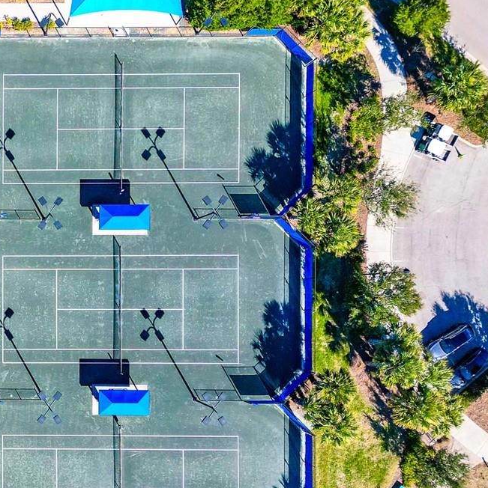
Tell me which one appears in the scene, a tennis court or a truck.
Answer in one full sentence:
There is a tennis court in the scene.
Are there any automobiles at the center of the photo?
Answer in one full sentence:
No, no automobile appears at the center of the photo.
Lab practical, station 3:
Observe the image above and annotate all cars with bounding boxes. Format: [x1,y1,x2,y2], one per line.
[425,321,477,359]
[451,348,488,390]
